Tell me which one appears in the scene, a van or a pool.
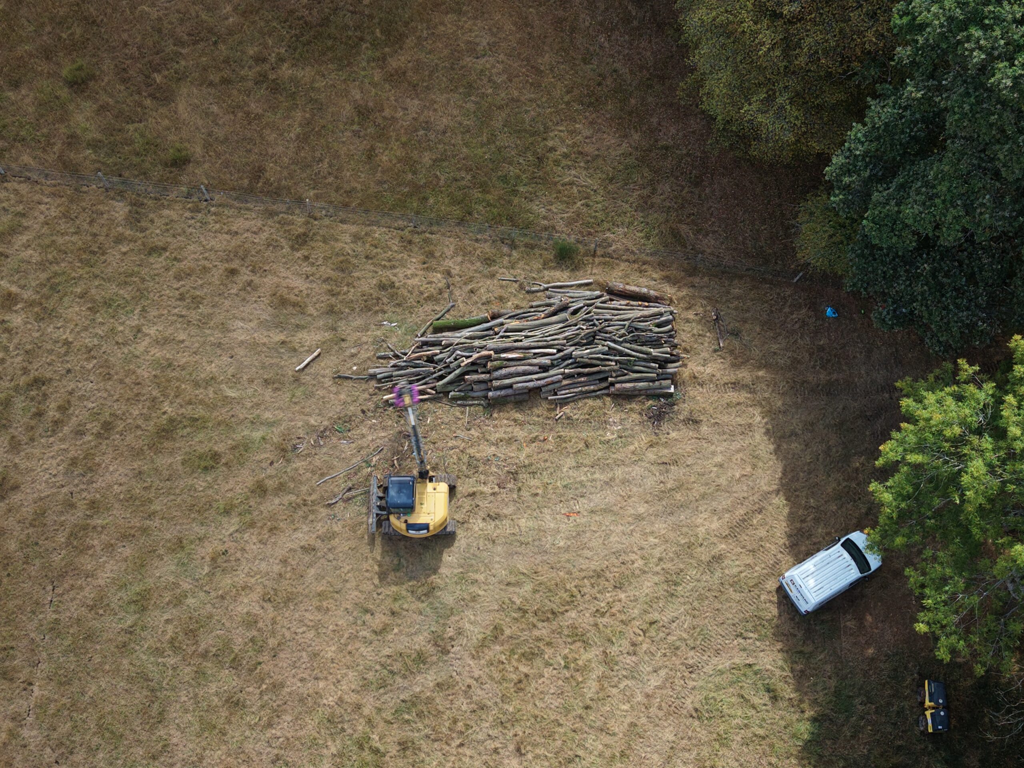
van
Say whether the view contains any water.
No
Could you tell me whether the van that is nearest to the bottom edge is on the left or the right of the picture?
right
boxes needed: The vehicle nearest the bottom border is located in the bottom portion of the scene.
[777,529,882,616]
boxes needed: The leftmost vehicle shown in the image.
[364,375,458,538]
